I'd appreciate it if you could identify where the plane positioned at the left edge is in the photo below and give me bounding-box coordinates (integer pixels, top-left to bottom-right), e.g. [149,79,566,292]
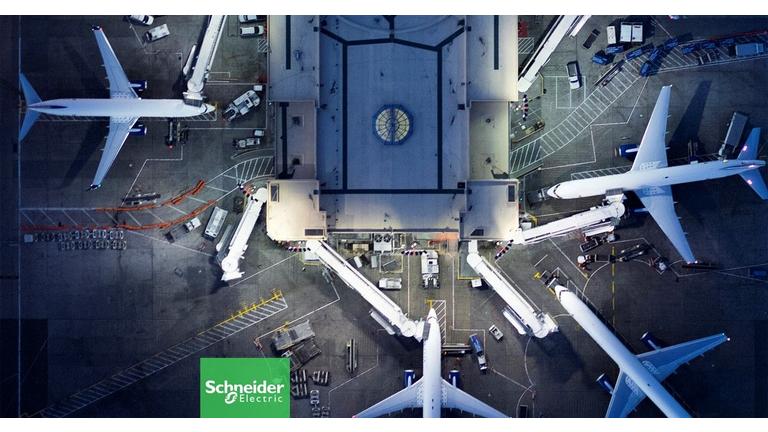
[13,24,217,189]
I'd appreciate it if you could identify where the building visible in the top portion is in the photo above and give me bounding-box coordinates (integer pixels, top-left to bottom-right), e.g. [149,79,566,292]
[266,0,520,243]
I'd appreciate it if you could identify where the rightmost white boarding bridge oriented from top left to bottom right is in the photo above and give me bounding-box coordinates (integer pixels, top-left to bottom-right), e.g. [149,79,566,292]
[466,240,559,337]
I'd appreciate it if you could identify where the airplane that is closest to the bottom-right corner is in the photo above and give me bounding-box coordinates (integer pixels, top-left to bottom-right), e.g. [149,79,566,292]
[555,287,738,432]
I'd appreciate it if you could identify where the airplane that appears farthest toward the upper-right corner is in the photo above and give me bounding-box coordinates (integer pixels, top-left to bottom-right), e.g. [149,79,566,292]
[546,82,768,266]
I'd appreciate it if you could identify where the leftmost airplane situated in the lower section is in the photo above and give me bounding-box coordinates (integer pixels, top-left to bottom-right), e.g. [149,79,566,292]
[350,308,515,432]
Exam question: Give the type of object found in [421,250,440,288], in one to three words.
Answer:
work vehicle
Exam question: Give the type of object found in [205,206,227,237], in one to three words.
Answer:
bus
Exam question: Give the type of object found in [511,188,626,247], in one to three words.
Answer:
jet bridge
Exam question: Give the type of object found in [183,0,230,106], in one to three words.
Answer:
jet bridge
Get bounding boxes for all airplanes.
[555,287,738,432]
[350,308,515,432]
[13,24,217,189]
[546,82,768,266]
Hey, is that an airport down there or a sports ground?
airport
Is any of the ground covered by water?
No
